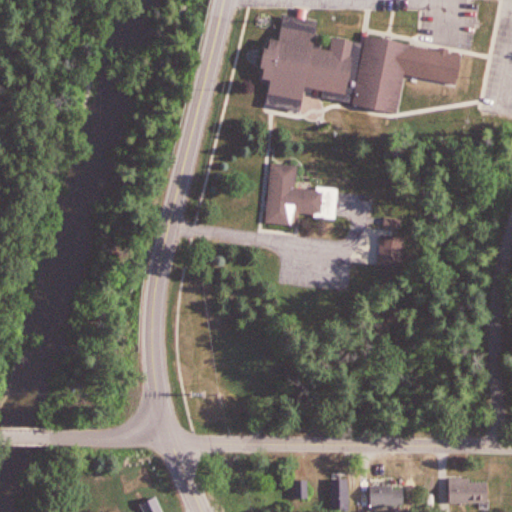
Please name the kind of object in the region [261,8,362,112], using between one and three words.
building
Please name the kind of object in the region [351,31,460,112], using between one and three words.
building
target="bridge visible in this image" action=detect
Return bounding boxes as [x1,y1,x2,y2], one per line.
[0,427,50,448]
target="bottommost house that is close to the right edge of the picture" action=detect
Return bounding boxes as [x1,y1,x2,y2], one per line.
[449,478,489,511]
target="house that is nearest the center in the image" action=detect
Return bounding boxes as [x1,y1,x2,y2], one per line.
[264,166,339,226]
